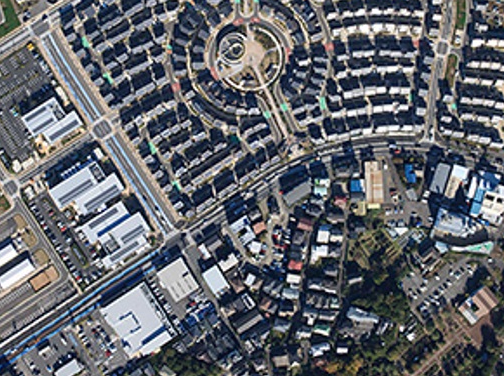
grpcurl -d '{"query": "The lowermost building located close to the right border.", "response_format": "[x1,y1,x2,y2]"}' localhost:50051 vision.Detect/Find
[458,283,500,326]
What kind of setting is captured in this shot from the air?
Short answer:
residential area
